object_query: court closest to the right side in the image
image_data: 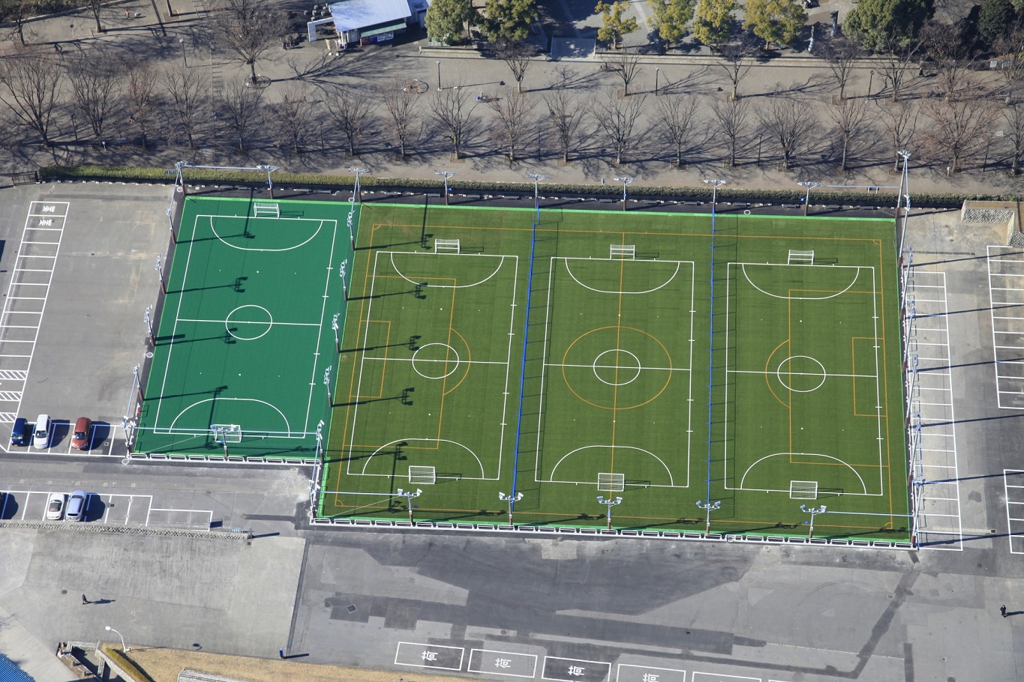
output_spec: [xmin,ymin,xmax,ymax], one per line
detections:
[709,211,910,541]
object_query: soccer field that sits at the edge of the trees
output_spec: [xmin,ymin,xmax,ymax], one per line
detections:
[333,224,891,528]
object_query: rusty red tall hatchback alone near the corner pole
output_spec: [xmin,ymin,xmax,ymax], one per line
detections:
[69,419,89,450]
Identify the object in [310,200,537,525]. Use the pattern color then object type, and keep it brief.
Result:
green sports court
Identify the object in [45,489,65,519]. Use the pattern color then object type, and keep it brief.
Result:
white car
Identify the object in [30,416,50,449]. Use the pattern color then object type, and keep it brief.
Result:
white car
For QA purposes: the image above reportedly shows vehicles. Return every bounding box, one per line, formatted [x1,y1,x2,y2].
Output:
[45,489,65,519]
[69,419,89,450]
[30,416,50,449]
[66,486,87,518]
[11,417,30,445]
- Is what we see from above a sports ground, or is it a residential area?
sports ground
